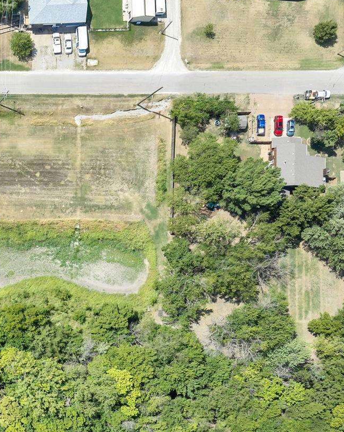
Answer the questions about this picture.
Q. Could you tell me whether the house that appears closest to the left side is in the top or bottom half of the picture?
top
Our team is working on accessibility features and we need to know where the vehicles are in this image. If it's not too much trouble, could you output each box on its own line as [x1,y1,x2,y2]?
[52,33,62,56]
[272,115,285,137]
[284,118,295,136]
[76,23,90,57]
[254,114,267,137]
[62,34,73,55]
[303,89,330,100]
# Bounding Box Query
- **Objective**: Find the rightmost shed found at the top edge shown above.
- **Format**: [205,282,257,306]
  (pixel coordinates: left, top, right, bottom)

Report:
[125,0,155,24]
